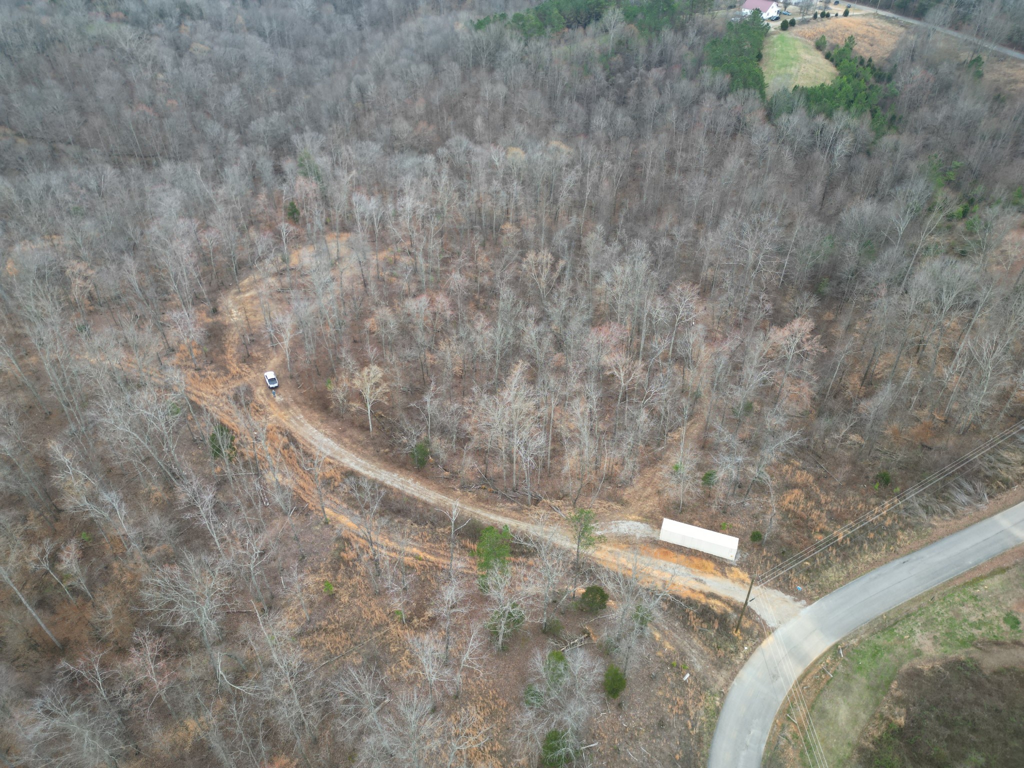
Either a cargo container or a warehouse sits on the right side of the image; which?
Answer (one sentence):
What appears on the right side of the image is a cargo container.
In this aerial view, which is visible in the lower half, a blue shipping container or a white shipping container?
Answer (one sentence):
The one visible in the lower half is a white shipping container.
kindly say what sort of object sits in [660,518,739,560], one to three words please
shipping container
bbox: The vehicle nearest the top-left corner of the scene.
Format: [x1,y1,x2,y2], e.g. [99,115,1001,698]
[263,370,278,390]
